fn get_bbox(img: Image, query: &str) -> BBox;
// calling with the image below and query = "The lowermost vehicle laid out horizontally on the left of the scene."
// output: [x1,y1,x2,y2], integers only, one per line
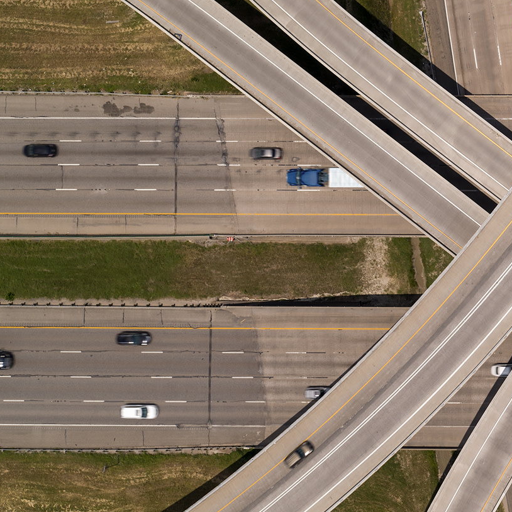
[123,403,158,420]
